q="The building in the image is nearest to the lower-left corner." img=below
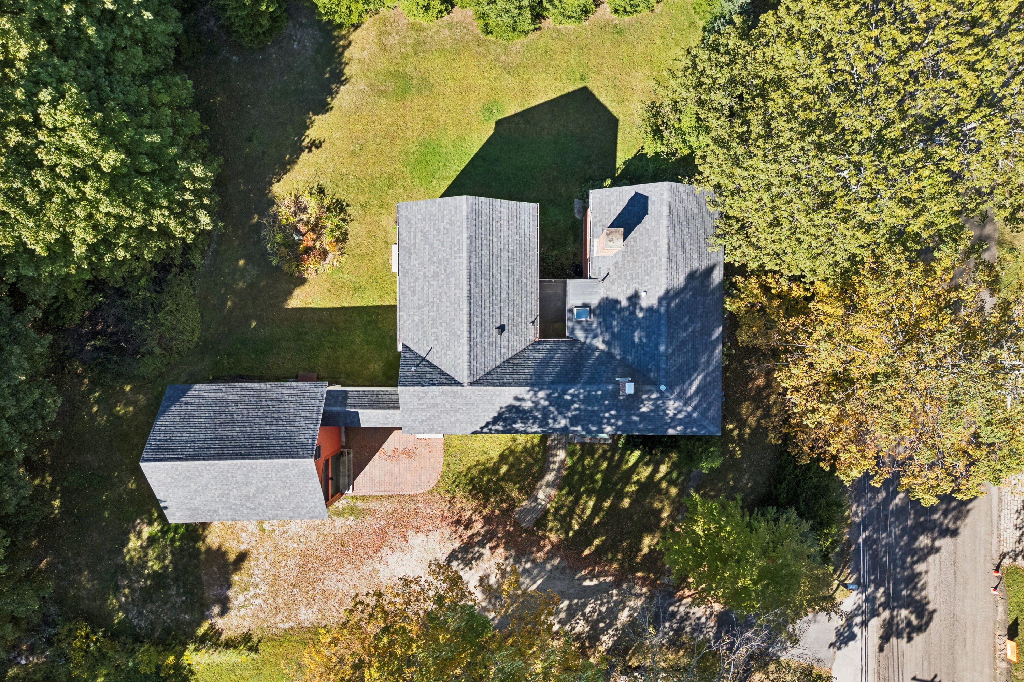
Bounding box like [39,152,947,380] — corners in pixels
[142,381,343,524]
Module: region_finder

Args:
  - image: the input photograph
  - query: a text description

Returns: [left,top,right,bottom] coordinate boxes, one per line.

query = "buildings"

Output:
[394,182,722,436]
[142,381,343,524]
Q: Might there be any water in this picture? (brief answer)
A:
No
